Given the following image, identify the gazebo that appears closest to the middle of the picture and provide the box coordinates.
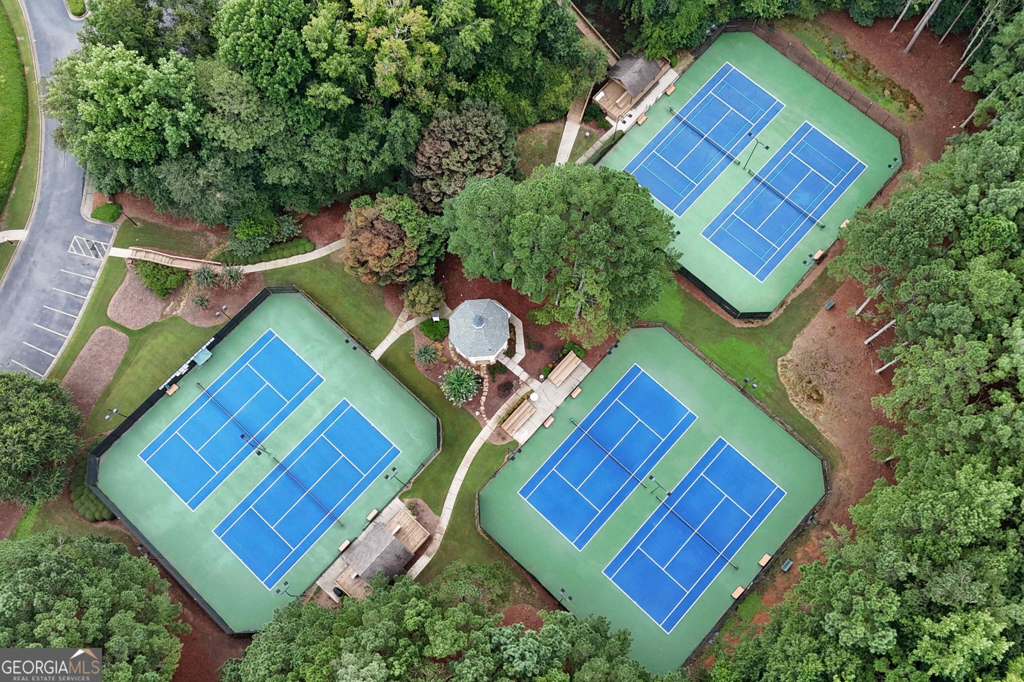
[449,301,512,365]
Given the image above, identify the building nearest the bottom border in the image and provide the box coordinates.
[334,509,430,608]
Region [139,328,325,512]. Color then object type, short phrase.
blue tennis court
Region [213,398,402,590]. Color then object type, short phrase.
blue tennis court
